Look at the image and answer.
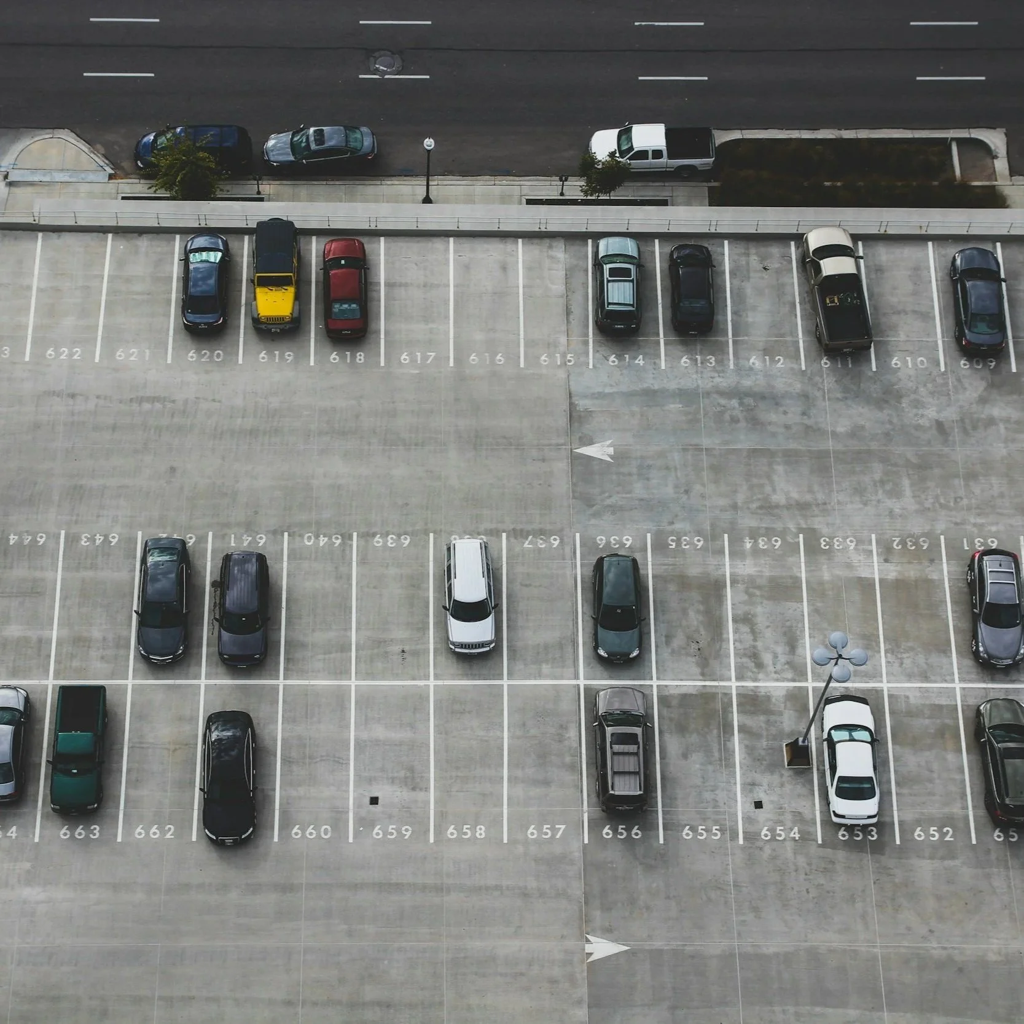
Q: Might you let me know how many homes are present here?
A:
0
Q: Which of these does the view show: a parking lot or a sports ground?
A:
parking lot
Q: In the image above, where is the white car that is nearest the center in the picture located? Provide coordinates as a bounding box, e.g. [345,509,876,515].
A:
[441,544,501,657]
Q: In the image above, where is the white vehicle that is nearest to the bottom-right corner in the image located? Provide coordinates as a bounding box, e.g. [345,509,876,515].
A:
[822,694,881,833]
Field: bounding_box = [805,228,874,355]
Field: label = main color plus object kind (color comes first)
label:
black truck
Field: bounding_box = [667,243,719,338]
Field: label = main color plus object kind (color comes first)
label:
black car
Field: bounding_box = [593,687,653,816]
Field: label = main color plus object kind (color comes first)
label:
gray car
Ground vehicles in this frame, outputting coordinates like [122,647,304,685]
[593,236,646,339]
[805,228,874,355]
[197,710,260,847]
[822,694,881,833]
[132,537,192,666]
[966,549,1024,670]
[667,243,719,338]
[177,233,232,336]
[593,687,653,816]
[587,122,716,178]
[212,554,273,670]
[0,685,30,805]
[590,556,647,666]
[248,218,302,332]
[952,247,1008,359]
[441,544,501,657]
[975,698,1024,828]
[319,238,371,342]
[263,124,378,179]
[46,686,108,817]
